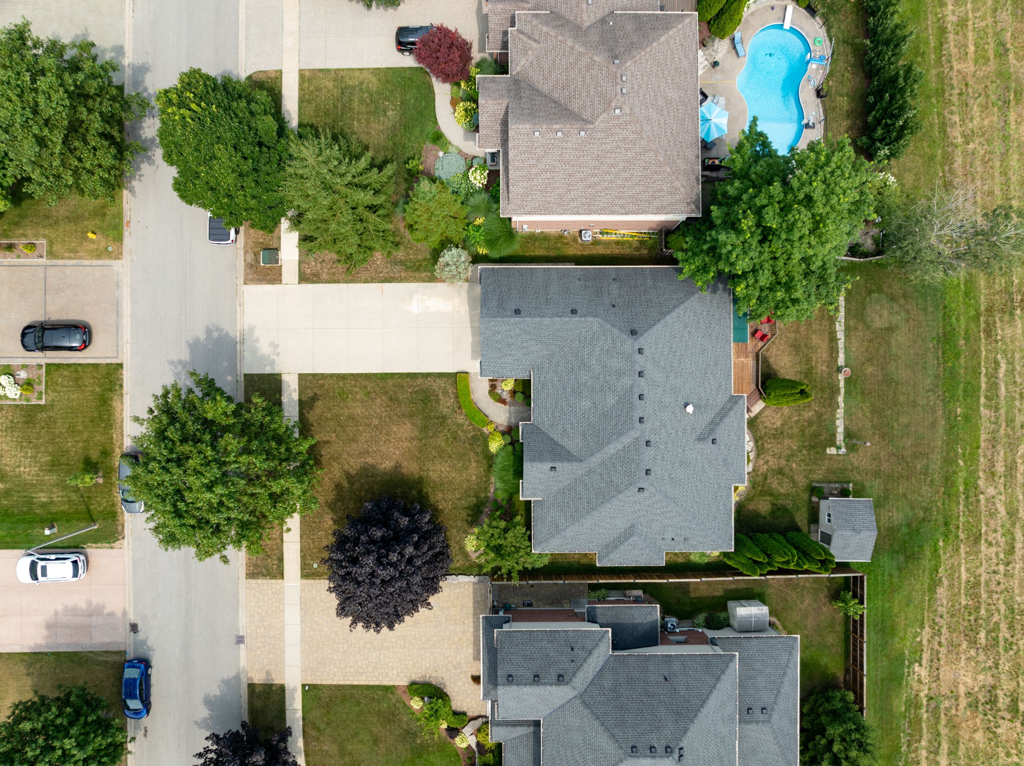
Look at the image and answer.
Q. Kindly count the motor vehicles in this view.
6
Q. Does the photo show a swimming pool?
Yes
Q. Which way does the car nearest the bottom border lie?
vertically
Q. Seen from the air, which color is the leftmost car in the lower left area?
white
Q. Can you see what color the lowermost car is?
blue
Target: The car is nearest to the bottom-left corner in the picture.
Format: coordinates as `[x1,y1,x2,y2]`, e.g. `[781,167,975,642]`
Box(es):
[119,657,153,720]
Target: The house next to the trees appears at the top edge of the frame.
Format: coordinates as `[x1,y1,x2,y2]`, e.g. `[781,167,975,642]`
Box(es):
[476,0,702,232]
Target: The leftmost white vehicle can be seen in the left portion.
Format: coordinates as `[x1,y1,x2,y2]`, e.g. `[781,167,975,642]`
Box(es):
[18,552,89,586]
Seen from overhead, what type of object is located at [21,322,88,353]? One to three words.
car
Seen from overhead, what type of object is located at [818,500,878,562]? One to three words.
shed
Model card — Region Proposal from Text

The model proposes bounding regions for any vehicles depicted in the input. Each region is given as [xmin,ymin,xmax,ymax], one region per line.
[21,322,88,353]
[119,657,153,720]
[394,16,439,53]
[115,452,145,514]
[204,194,238,244]
[18,552,89,586]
